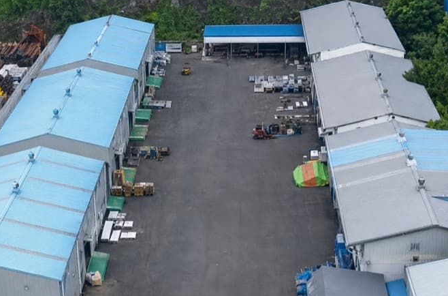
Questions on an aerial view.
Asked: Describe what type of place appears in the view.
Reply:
industrial area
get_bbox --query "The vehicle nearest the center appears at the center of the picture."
[250,118,278,138]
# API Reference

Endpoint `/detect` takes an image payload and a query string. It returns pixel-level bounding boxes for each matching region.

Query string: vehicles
[182,61,190,77]
[250,118,278,138]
